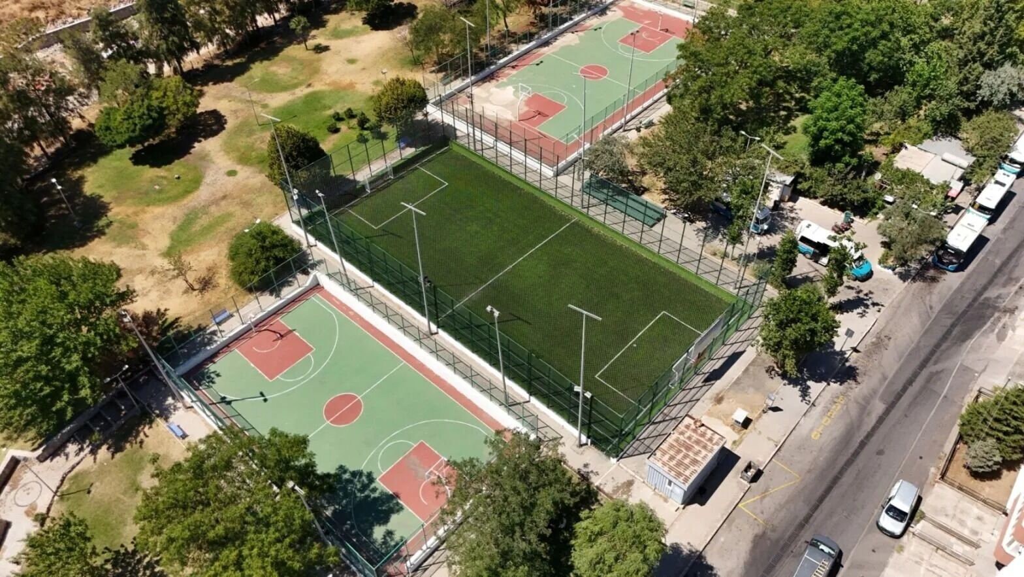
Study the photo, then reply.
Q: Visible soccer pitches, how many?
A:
one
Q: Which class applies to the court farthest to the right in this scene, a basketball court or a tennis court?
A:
basketball court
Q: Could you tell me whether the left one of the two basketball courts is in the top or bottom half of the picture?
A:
bottom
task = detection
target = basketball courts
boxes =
[435,2,707,167]
[191,284,530,577]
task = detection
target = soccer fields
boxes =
[298,137,760,464]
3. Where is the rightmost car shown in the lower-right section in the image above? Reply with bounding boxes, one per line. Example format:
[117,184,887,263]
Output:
[876,477,928,536]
